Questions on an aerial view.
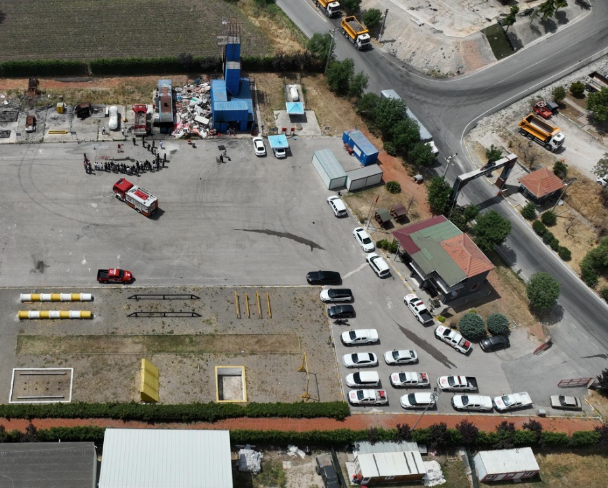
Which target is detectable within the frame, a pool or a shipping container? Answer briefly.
shipping container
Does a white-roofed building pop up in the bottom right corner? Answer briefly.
Yes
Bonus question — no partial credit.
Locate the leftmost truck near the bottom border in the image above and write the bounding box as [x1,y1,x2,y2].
[313,453,341,488]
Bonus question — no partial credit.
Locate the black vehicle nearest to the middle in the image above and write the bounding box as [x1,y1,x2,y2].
[308,270,341,287]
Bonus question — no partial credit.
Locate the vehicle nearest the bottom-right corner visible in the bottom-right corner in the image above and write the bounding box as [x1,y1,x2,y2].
[546,397,583,411]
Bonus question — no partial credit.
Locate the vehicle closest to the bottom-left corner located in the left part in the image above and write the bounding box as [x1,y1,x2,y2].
[98,269,134,285]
